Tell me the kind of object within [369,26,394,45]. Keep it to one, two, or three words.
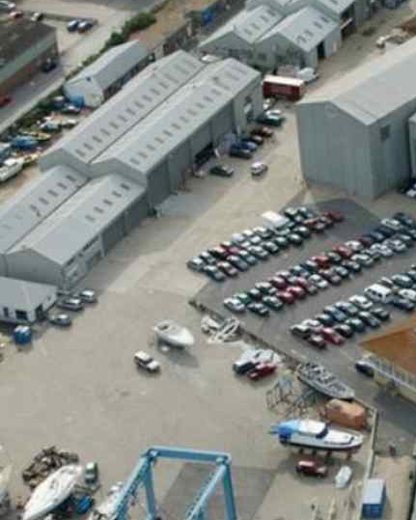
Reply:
vehicle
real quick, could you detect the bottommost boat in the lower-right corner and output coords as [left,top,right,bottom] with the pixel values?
[333,466,352,492]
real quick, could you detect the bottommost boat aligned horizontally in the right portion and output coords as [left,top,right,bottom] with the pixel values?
[267,423,364,466]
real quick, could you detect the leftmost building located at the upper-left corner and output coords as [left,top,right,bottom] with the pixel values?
[0,27,58,111]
